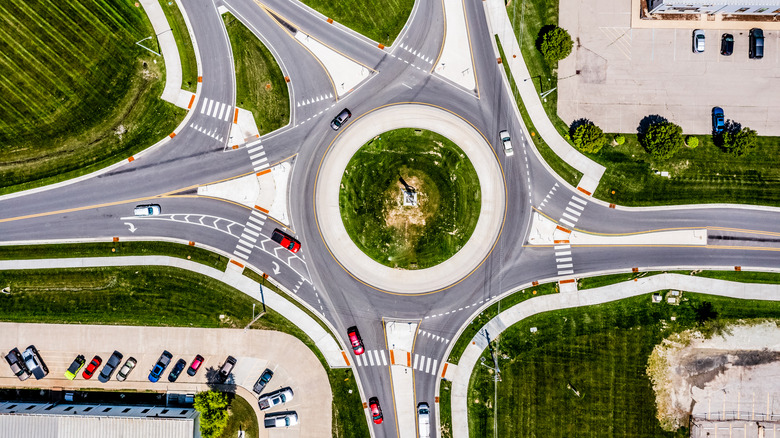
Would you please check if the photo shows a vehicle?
Yes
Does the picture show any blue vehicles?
Yes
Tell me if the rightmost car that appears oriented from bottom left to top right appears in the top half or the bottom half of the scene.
top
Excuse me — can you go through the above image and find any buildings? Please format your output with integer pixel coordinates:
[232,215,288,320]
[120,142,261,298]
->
[0,401,203,438]
[651,0,780,15]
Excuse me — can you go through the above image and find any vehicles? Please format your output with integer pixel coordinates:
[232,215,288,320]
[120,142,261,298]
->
[168,356,187,382]
[6,349,31,380]
[369,396,382,423]
[270,229,302,253]
[217,354,238,382]
[258,388,293,408]
[251,366,274,395]
[63,354,85,379]
[24,347,49,379]
[117,356,138,382]
[264,411,298,426]
[747,27,765,60]
[498,129,513,158]
[719,32,734,57]
[133,204,162,217]
[710,106,726,134]
[328,107,354,131]
[149,350,173,382]
[187,353,206,377]
[98,350,123,382]
[83,355,104,380]
[349,326,364,354]
[690,29,706,55]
